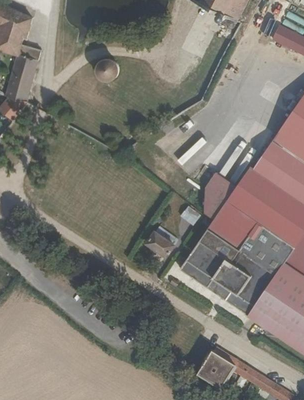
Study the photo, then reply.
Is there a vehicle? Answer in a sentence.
Yes, I can see a vehicle in this picture.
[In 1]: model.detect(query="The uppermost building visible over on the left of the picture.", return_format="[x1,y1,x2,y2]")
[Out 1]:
[0,0,32,25]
